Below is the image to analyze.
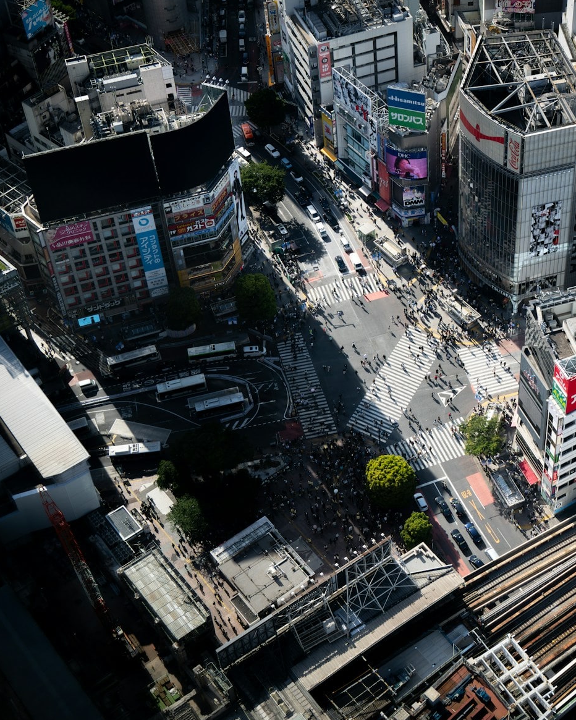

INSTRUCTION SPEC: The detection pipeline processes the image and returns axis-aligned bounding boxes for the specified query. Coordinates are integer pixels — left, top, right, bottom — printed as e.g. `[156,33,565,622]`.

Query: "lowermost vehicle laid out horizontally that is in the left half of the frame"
[103,446,161,471]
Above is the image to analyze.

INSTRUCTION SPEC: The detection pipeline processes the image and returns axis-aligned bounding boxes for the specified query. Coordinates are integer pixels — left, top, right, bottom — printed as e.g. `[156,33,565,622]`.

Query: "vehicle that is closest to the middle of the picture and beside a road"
[242,344,266,357]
